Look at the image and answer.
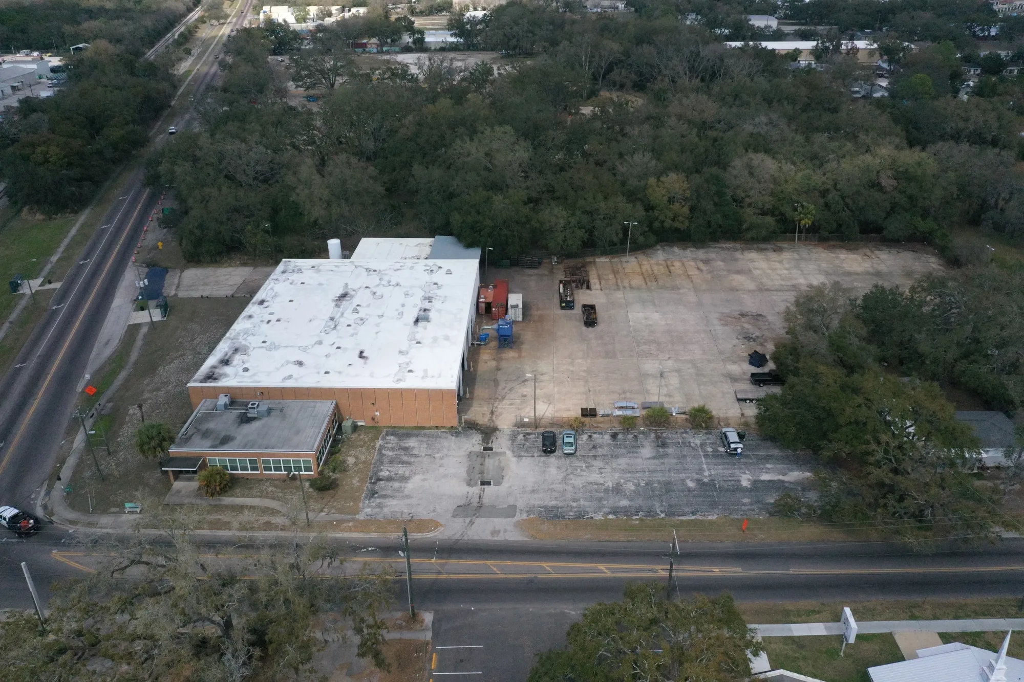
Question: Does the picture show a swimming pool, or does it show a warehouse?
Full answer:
I can see a warehouse in this picture.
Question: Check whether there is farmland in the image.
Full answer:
No, the scene doesn't show any farmland.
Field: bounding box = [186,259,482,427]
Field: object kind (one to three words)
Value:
warehouse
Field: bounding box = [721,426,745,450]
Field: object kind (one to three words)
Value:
car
